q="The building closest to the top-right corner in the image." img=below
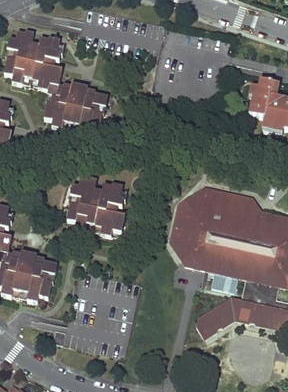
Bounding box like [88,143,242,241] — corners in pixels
[248,76,288,136]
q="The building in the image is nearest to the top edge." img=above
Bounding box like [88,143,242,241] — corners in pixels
[2,30,64,99]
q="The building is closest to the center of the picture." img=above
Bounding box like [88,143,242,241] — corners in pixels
[65,178,127,238]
